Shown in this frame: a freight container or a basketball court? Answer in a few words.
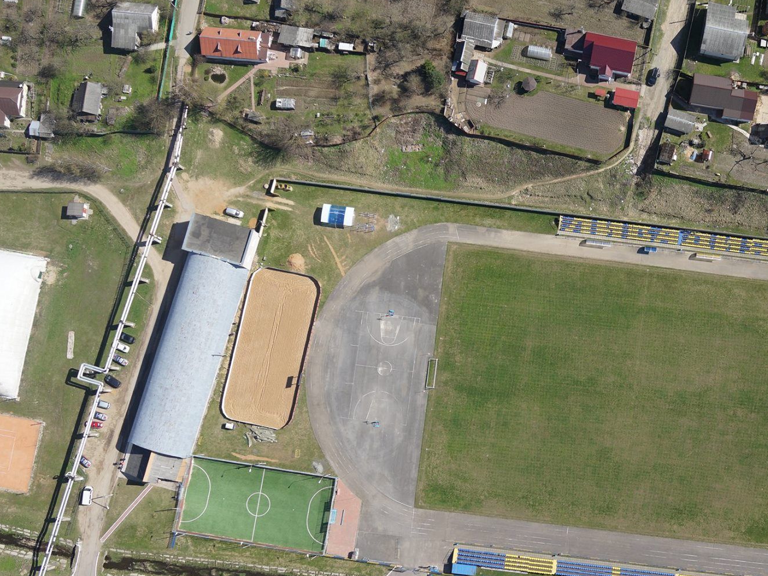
basketball court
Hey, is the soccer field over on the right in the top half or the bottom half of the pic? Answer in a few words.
bottom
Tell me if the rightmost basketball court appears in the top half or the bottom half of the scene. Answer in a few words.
bottom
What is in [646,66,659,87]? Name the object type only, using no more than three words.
vehicle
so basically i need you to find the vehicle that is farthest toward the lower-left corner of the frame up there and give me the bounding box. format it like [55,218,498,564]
[80,484,93,508]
